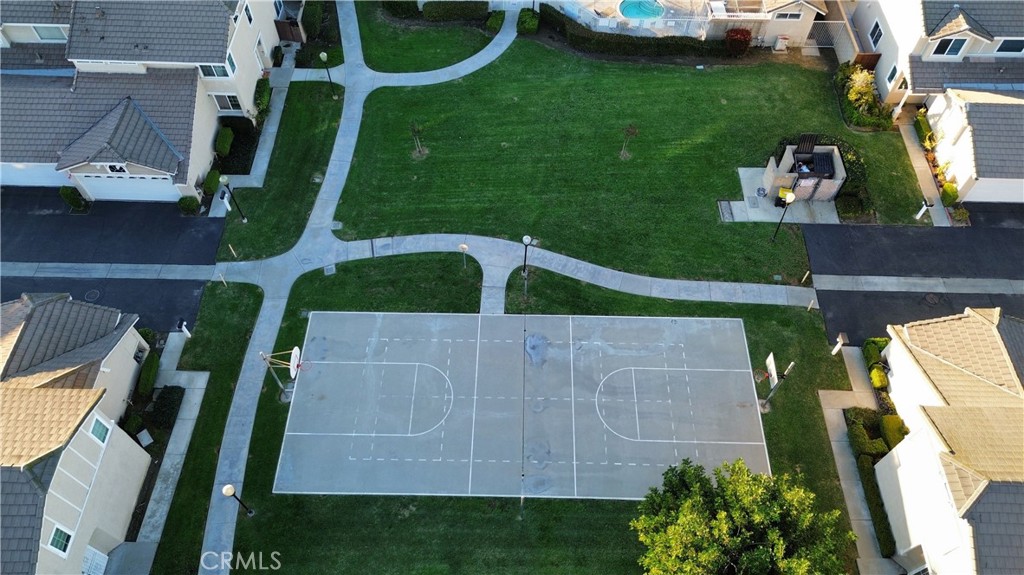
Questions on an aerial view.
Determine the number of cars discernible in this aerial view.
0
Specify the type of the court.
basketball court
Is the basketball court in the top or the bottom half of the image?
bottom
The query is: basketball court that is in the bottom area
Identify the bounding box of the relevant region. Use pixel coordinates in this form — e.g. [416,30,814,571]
[272,311,773,503]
